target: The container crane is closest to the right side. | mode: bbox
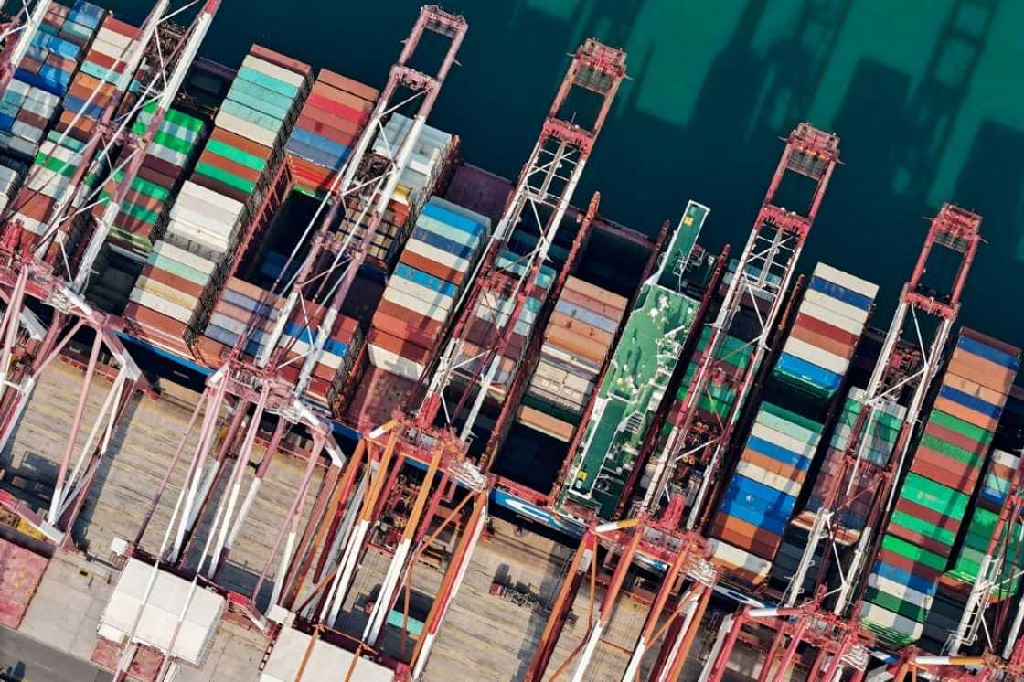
[850,428,1024,682]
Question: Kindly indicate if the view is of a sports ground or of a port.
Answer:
port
